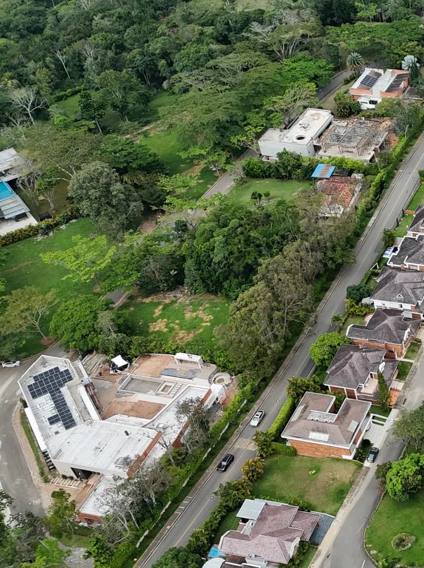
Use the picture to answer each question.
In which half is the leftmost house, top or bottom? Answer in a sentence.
Seen from above, the leftmost house lies in the bottom half of the view.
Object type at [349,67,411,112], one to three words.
house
